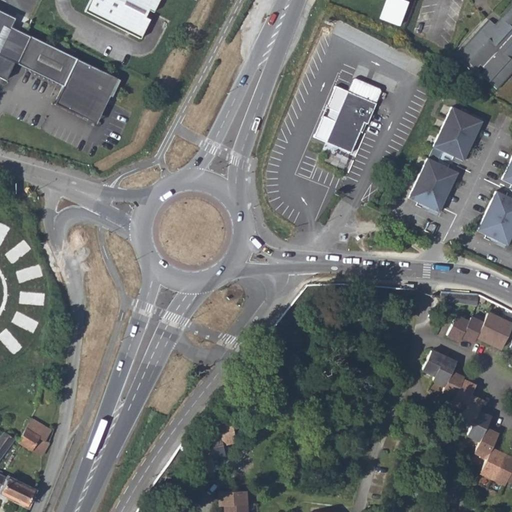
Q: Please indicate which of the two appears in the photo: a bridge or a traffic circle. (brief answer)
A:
traffic circle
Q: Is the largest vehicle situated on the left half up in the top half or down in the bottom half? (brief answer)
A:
bottom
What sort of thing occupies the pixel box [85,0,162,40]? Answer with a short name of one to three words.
building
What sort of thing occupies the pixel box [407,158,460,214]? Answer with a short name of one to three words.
house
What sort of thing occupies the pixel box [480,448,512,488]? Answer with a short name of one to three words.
house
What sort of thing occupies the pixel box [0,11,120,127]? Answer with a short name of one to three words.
building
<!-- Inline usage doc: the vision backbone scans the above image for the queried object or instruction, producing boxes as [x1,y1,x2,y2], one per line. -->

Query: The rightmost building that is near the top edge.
[462,6,512,88]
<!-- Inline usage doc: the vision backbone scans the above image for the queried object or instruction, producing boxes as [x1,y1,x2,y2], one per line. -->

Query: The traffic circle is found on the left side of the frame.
[131,170,254,293]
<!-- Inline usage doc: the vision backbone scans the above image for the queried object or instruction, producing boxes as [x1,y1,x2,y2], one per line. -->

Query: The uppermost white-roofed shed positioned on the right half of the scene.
[378,0,410,28]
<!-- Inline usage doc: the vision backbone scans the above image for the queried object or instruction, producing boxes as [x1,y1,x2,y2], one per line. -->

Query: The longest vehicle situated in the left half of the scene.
[87,418,107,460]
